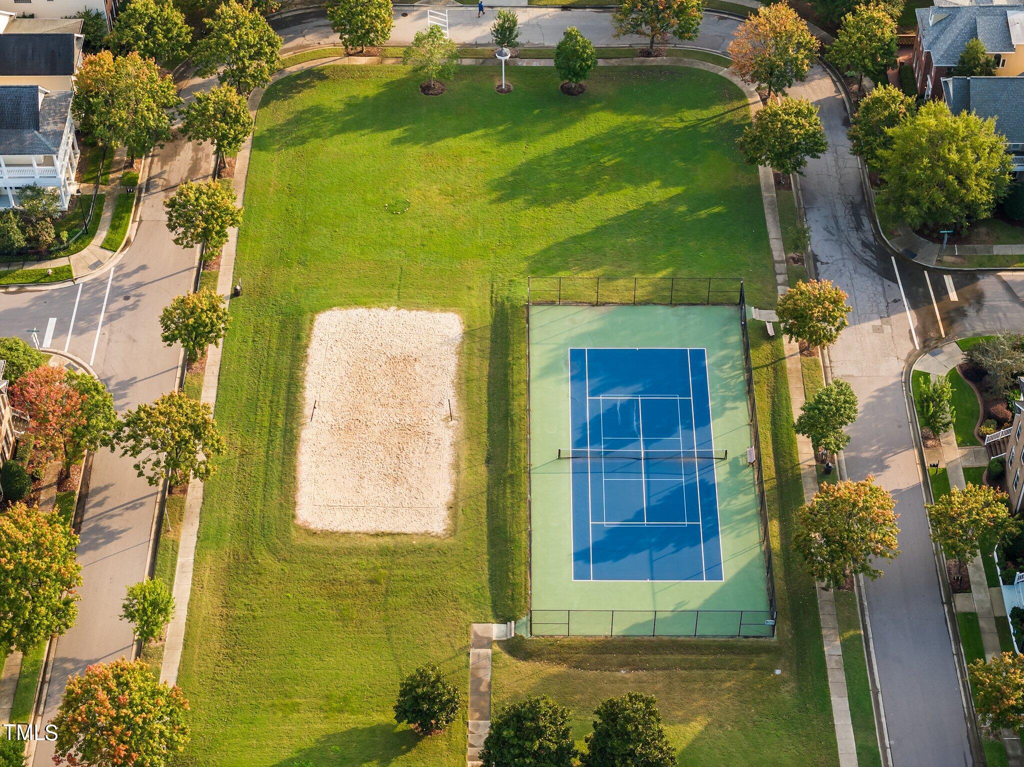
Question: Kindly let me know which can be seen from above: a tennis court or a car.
tennis court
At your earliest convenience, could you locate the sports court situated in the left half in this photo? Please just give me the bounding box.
[296,308,462,536]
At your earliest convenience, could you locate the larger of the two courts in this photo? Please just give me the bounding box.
[515,303,777,641]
